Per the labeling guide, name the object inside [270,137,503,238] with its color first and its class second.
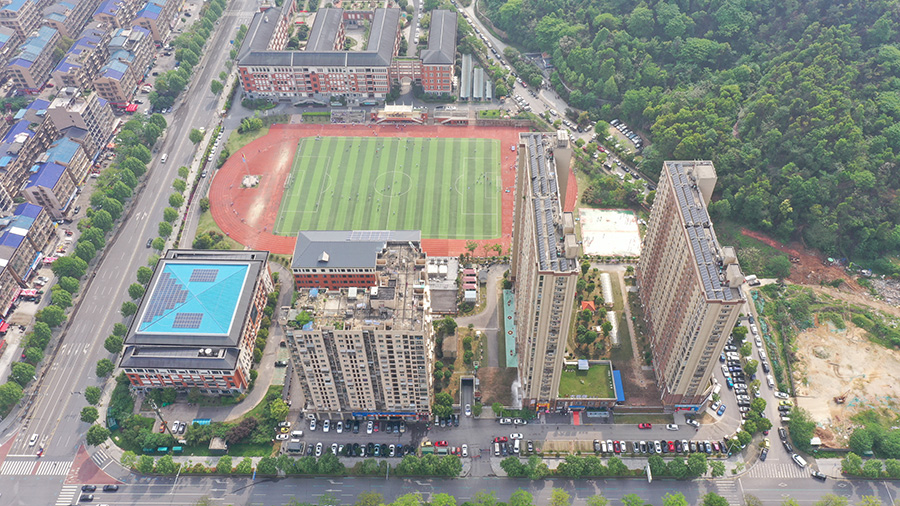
green soccer field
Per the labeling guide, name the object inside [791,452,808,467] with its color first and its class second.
white vehicle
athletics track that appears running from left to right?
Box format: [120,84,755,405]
[209,124,579,258]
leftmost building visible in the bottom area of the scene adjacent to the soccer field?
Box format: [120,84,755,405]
[115,250,271,392]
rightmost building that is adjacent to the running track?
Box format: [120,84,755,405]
[636,154,757,413]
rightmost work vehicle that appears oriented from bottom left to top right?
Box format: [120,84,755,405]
[831,387,854,405]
